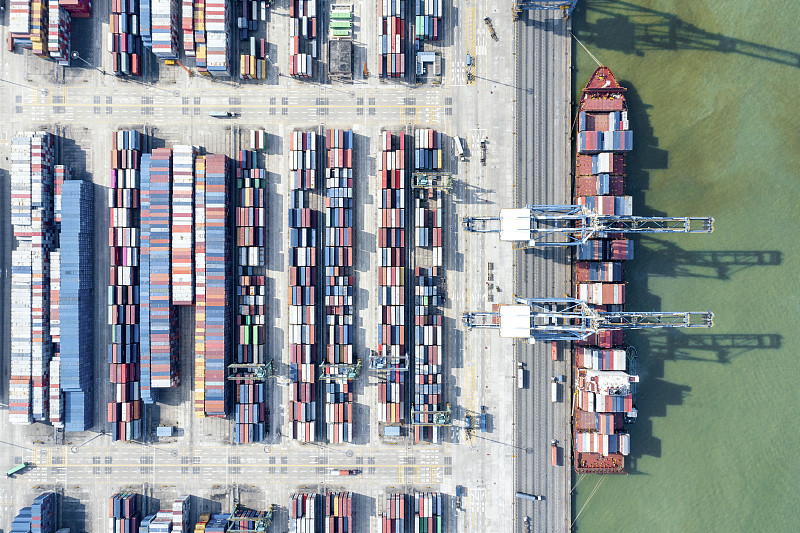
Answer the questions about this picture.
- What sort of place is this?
port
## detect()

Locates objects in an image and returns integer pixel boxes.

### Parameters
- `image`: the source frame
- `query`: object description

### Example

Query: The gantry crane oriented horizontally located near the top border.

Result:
[516,0,578,21]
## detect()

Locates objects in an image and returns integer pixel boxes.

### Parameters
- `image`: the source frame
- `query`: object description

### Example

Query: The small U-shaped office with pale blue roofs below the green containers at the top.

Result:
[416,52,441,76]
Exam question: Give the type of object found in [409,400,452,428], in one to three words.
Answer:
container crane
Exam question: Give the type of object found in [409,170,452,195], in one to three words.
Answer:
container crane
